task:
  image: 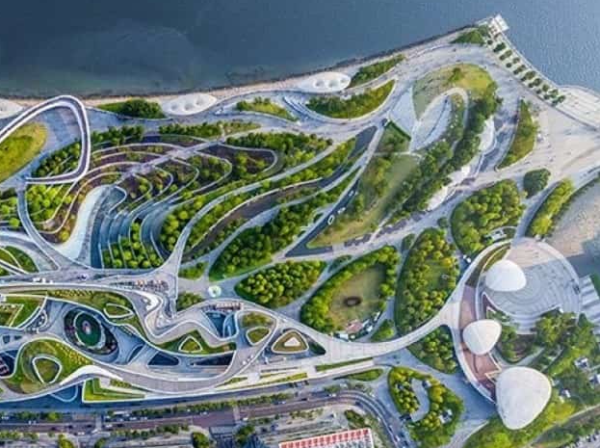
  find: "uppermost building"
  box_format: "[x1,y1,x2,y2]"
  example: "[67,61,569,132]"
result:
[298,71,350,92]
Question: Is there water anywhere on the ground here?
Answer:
Yes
